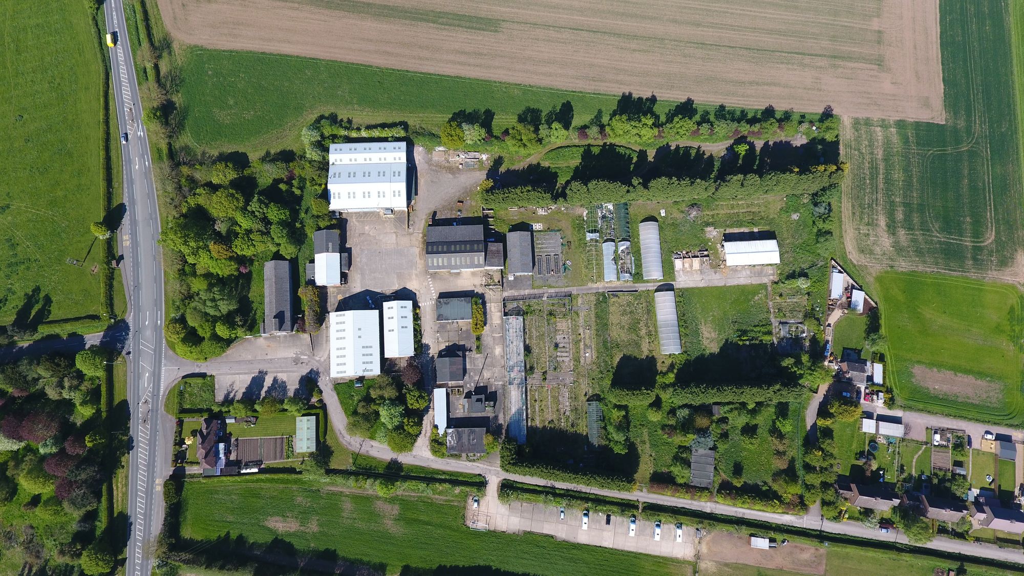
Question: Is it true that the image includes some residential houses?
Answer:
Yes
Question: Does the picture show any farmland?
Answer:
Yes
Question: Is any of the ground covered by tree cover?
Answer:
Yes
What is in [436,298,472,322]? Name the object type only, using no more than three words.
building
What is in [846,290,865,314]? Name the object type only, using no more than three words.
shed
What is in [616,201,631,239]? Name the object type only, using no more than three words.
greenhouse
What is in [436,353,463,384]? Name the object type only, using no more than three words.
house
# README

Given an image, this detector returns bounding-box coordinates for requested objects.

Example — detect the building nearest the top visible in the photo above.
[328,141,407,167]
